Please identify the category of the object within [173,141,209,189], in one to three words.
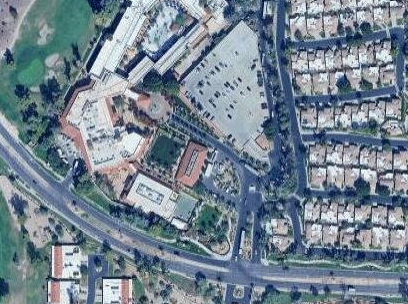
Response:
building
